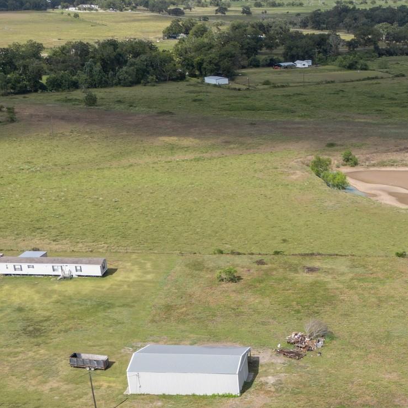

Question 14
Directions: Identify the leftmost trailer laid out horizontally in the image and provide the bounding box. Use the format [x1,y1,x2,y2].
[68,350,114,370]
